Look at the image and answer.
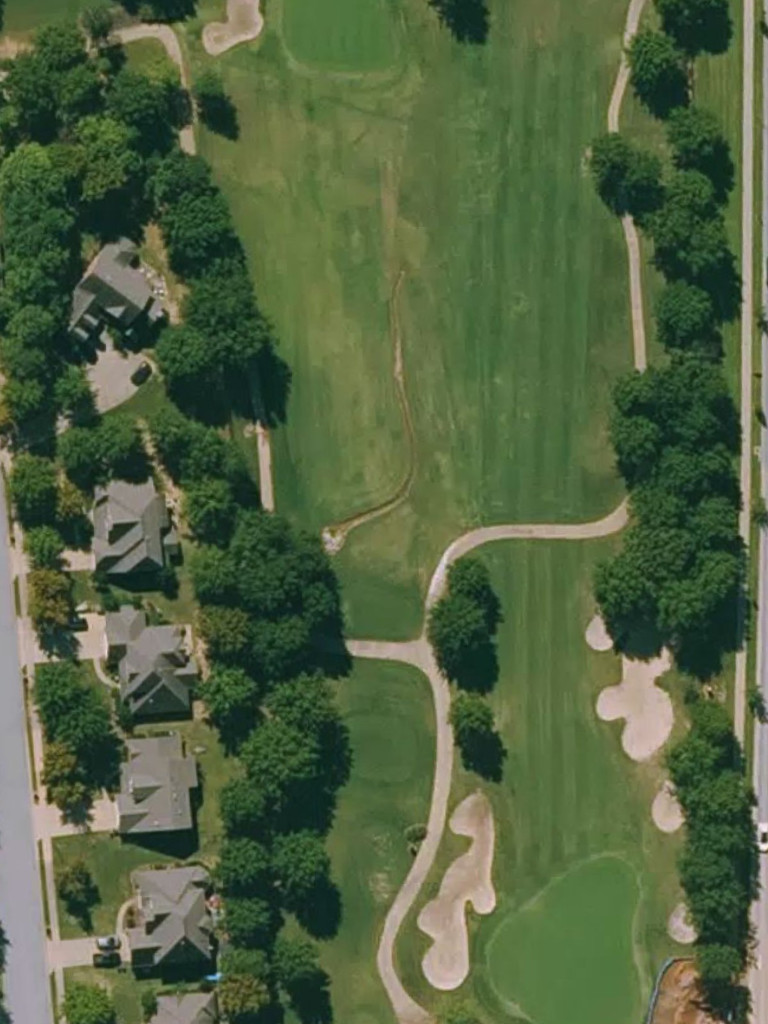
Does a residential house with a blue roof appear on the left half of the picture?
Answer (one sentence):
No, there's no residential house with a blue roof to be seen on the left half of the picture.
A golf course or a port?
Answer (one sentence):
The picture captures a golf course.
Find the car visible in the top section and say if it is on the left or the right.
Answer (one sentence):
The car visible in the top section is on the left side of the image.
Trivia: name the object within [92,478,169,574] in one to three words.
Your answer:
house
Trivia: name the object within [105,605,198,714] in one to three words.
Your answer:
house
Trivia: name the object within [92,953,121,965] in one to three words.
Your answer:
vehicle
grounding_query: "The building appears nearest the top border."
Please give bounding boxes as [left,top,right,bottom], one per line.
[54,241,164,342]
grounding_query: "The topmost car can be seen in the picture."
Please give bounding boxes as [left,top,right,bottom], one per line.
[130,362,152,386]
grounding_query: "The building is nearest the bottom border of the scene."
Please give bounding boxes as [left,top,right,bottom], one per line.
[146,993,217,1024]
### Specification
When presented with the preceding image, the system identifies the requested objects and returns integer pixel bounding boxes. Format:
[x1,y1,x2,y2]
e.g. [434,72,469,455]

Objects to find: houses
[128,866,213,967]
[54,241,164,342]
[146,993,217,1024]
[105,605,198,714]
[117,736,198,835]
[92,478,169,574]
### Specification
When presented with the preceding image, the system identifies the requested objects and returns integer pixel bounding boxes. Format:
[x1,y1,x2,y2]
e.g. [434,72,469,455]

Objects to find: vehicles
[759,823,768,851]
[66,618,90,629]
[92,953,121,965]
[96,937,121,948]
[130,362,152,386]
